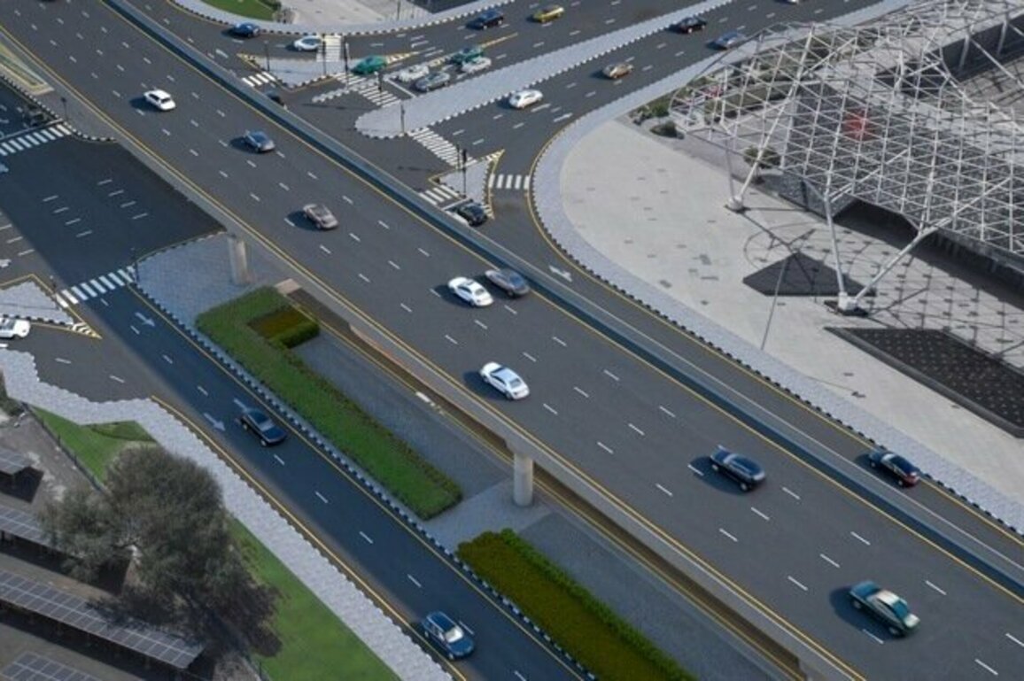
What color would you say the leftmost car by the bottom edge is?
blue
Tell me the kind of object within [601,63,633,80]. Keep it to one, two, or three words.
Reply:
car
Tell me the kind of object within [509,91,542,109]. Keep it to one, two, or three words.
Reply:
car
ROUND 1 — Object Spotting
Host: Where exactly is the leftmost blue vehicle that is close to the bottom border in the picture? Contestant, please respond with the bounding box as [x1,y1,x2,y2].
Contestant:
[421,610,475,659]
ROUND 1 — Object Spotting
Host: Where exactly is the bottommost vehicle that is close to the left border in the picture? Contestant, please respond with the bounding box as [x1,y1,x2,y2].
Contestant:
[0,317,36,340]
